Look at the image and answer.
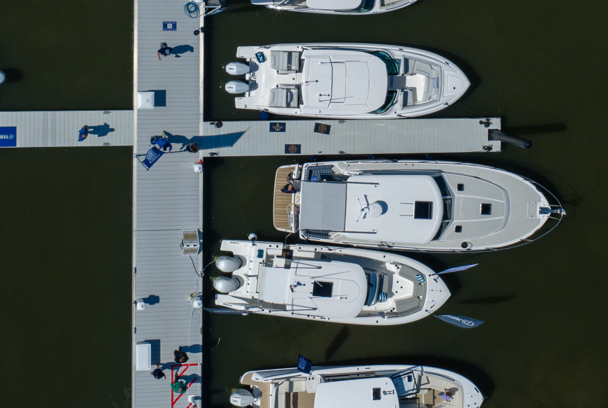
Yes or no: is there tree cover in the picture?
No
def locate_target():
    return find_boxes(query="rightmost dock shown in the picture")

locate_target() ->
[204,117,501,157]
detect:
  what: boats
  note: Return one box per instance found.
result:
[273,159,567,253]
[212,238,451,326]
[229,360,487,408]
[0,70,7,85]
[250,0,415,15]
[224,42,471,120]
